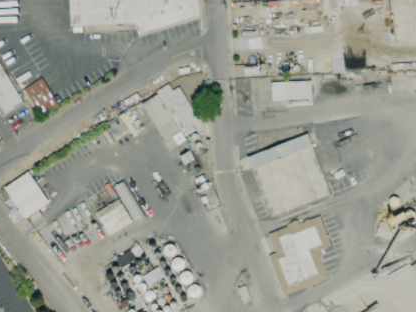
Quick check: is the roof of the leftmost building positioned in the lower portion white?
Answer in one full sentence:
Yes, the roof of the leftmost building positioned in the lower portion is indeed white.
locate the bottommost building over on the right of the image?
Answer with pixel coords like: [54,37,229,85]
[270,215,330,295]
